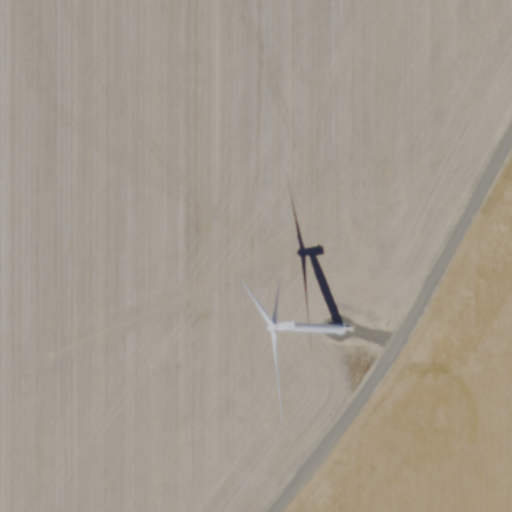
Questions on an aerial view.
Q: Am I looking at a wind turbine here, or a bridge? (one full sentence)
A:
There is a wind turbine in the scene.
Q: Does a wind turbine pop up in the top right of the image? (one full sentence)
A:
No, no wind turbine can be made out in the top right of the image.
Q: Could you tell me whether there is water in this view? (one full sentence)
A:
No, no water is visible.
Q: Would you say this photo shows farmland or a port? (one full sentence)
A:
The area seen from above is farmland.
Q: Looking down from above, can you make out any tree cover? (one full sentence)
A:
No, the picture contains no tree cover.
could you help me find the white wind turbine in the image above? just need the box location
[244,280,349,417]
